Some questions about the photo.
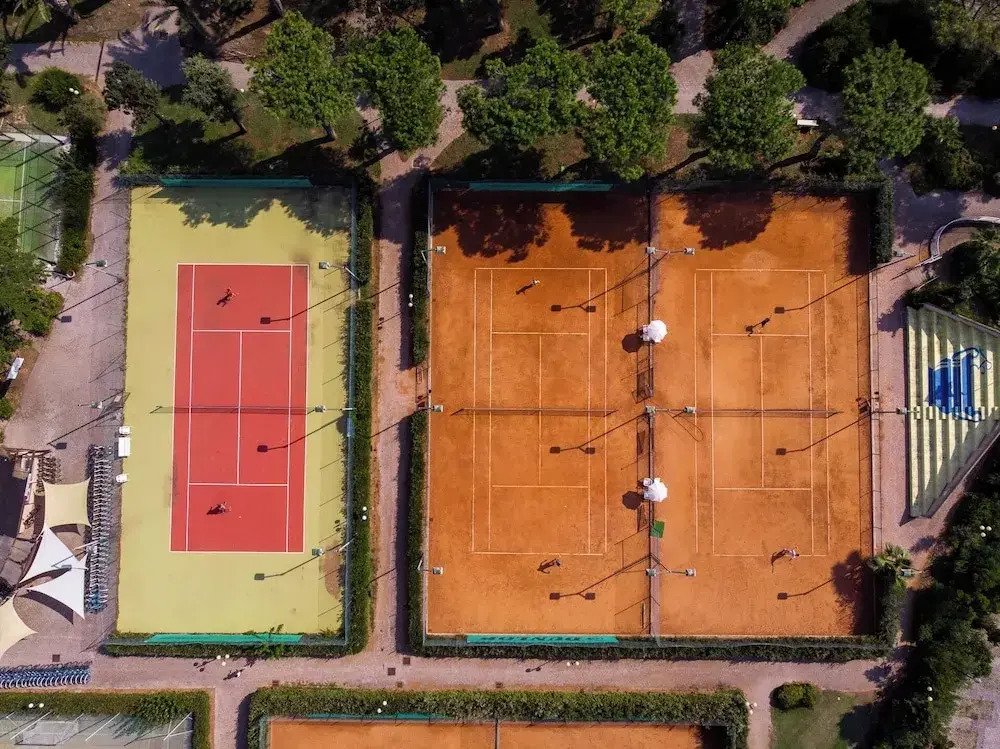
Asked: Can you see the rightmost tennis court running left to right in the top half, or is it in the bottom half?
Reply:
bottom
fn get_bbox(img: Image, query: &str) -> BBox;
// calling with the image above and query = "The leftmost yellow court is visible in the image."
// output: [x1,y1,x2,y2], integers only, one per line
[118,185,354,635]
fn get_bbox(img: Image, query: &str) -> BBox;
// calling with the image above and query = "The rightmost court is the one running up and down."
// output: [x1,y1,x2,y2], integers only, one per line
[650,188,875,637]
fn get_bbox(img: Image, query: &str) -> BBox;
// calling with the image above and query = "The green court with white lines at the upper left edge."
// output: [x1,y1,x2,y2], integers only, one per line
[0,126,67,258]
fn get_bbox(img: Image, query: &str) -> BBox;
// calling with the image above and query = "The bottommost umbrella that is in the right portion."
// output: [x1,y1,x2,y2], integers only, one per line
[645,477,671,503]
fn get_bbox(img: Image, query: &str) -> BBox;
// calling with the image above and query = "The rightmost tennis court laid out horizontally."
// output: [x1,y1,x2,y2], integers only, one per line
[497,720,723,749]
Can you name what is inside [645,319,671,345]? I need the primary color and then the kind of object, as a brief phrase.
white umbrella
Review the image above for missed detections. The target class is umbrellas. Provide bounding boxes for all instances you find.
[645,319,671,345]
[645,477,671,503]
